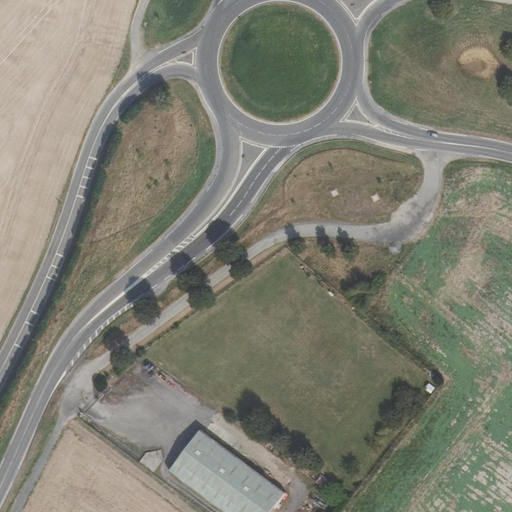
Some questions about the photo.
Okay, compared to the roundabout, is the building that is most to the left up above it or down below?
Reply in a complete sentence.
In the image, the building that is most to the left appears below the roundabout.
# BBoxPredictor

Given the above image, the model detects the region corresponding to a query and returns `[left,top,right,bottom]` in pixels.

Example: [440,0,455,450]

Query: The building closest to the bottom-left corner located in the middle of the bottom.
[170,430,285,512]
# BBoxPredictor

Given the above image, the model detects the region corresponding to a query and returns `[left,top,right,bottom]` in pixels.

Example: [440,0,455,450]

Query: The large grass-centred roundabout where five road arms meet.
[148,0,395,236]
